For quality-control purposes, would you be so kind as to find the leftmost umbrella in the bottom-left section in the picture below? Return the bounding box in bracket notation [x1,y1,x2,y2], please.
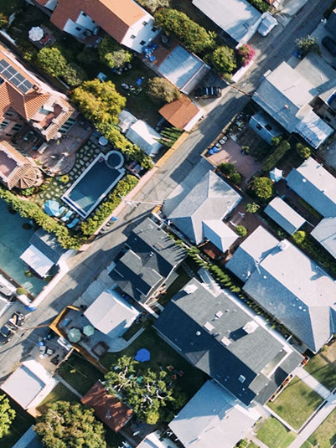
[67,327,83,343]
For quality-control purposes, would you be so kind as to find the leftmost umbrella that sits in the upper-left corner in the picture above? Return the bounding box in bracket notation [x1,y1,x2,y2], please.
[28,26,46,42]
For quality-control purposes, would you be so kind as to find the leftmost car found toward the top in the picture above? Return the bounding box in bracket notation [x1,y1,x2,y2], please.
[195,85,222,98]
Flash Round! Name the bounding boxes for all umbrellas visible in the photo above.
[270,167,284,182]
[28,26,46,42]
[67,327,83,343]
[45,199,61,216]
[83,324,95,336]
